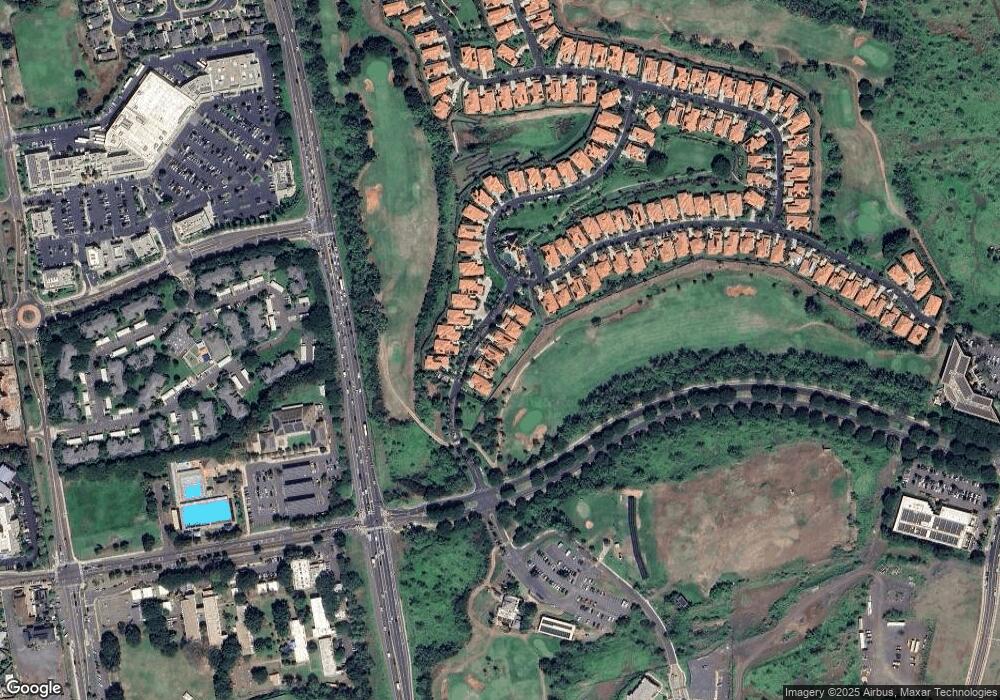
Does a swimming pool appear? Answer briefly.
Yes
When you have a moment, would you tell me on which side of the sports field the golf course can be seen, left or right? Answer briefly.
to the right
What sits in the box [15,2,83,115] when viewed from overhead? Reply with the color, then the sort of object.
green sports field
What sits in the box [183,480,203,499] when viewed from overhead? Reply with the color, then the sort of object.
blue swimming pool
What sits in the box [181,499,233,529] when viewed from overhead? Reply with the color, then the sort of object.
blue swimming pool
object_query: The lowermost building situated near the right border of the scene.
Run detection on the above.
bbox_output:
[894,496,983,549]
